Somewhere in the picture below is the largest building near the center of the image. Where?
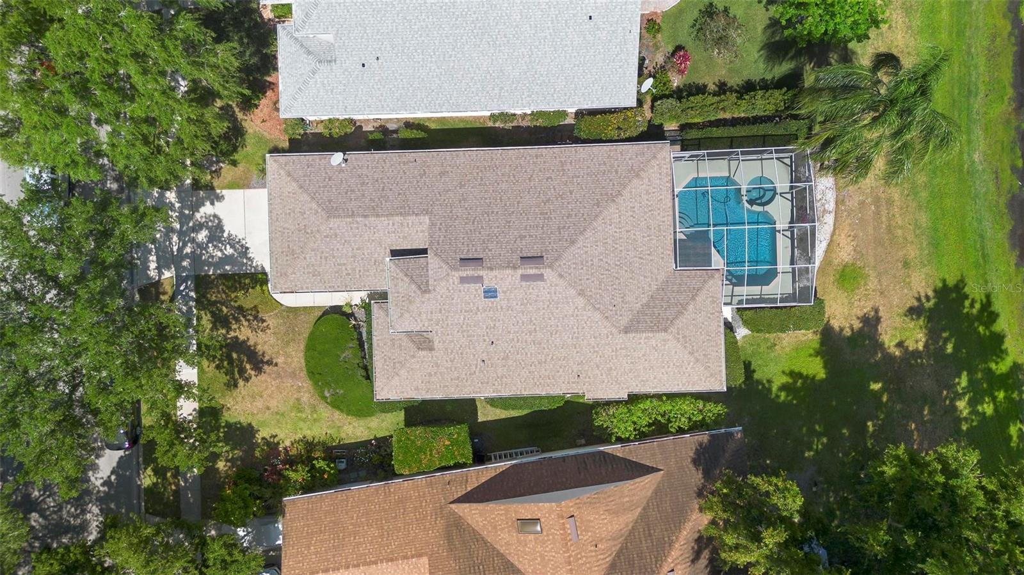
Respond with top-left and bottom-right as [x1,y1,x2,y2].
[265,139,728,403]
